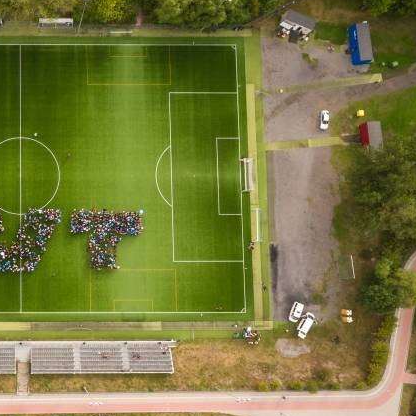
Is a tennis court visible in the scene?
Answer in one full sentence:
No, I can see no tennis court in this picture.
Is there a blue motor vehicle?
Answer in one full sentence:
No, I can't see a single blue motor vehicle in this photo.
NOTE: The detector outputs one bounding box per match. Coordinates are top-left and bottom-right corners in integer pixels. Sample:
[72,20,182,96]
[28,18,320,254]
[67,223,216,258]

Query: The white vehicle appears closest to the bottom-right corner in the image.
[298,314,319,340]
